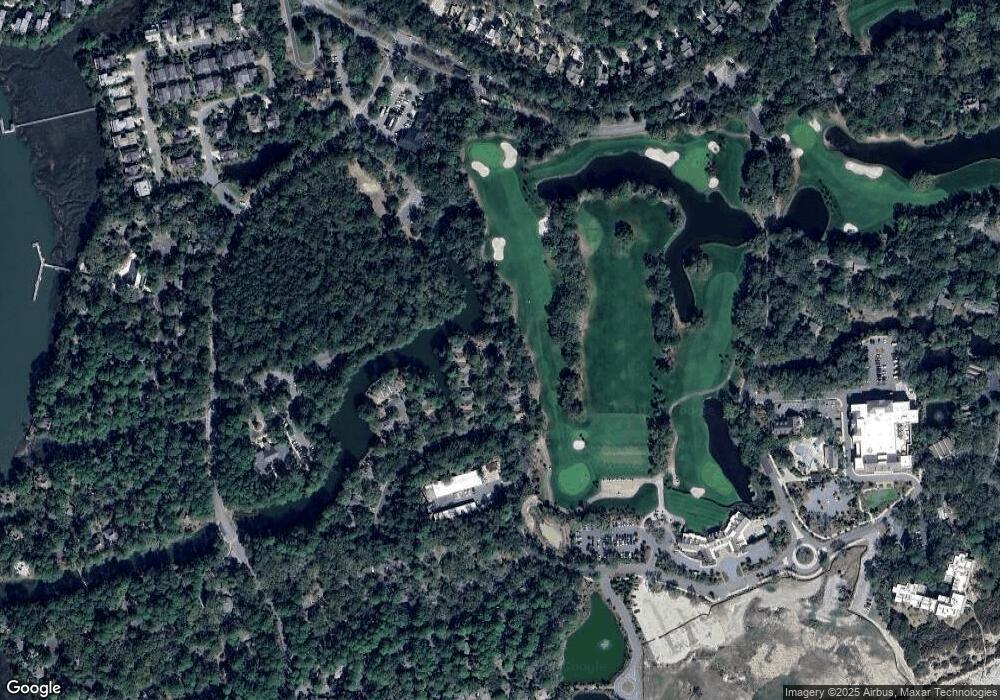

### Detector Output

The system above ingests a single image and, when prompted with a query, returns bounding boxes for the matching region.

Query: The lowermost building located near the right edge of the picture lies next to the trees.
[892,552,975,620]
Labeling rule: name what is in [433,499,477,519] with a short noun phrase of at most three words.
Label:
building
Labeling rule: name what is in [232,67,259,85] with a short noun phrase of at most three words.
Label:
house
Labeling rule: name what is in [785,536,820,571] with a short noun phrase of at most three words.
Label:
roundabout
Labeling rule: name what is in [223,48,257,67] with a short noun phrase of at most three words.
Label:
house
